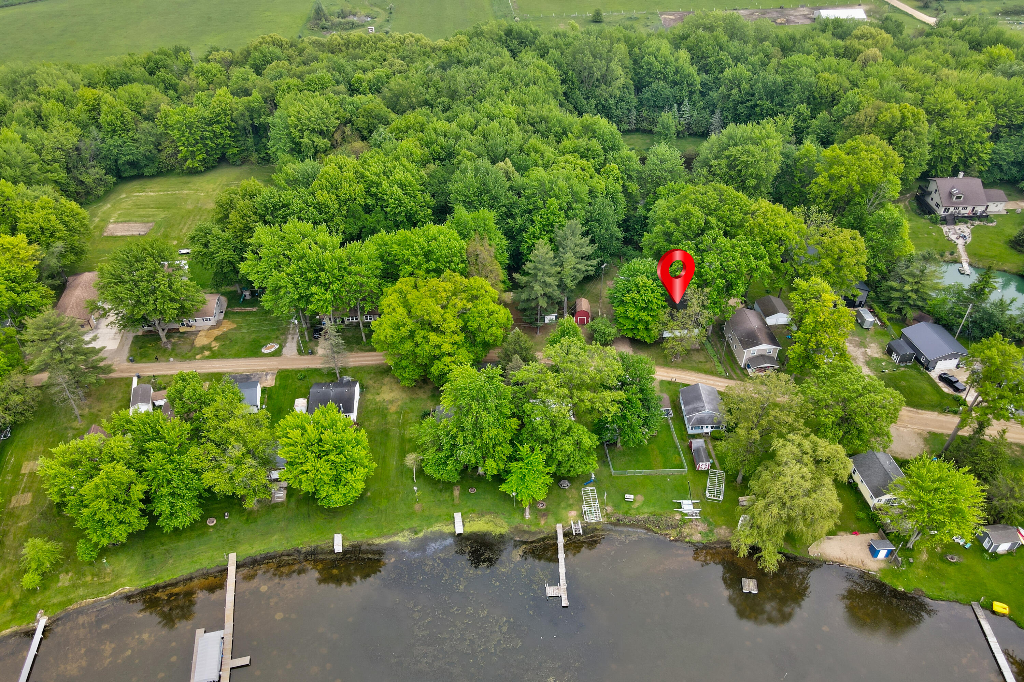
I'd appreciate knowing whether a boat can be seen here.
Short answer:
Yes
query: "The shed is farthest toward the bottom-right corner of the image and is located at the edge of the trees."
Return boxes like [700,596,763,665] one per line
[976,524,1023,553]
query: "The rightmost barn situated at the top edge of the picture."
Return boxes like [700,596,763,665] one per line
[810,9,869,22]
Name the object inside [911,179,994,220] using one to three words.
house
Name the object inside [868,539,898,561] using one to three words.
shed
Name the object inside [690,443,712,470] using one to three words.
shed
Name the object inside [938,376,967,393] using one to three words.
vehicle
